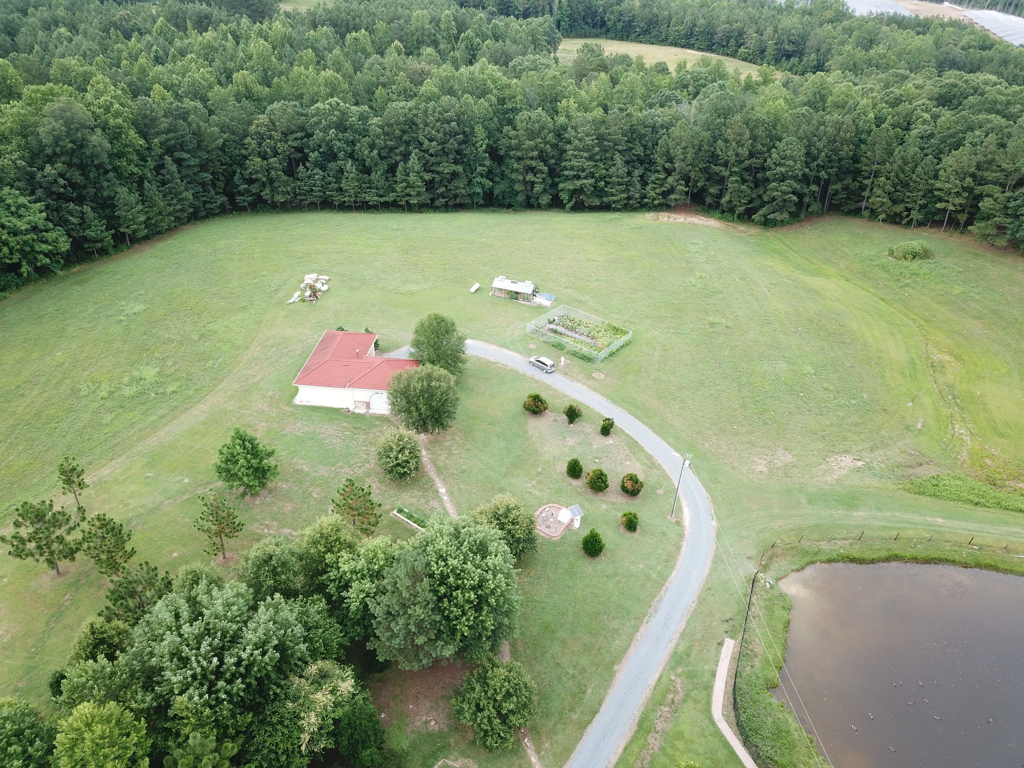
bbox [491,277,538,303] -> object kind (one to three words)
greenhouse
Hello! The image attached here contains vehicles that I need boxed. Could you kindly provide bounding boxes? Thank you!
[528,353,557,371]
